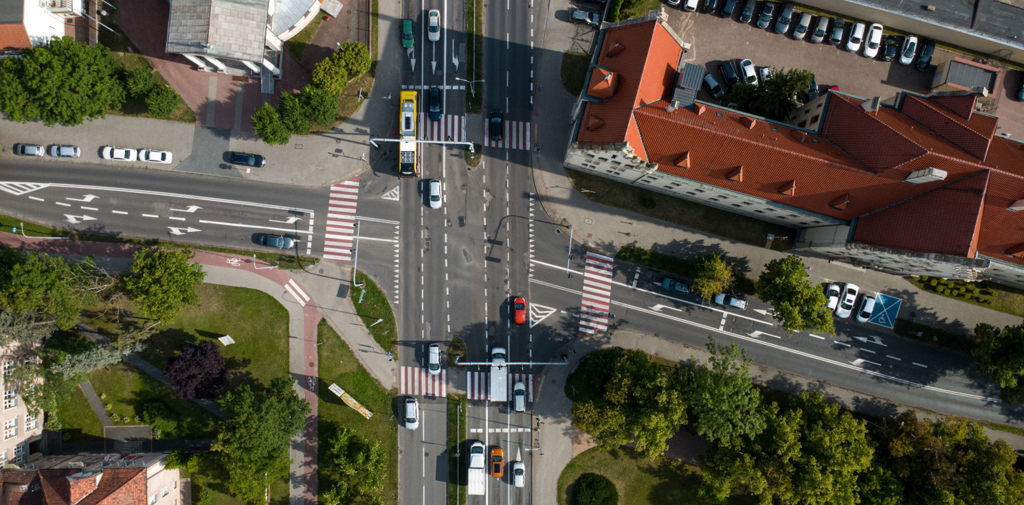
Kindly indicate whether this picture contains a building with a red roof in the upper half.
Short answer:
Yes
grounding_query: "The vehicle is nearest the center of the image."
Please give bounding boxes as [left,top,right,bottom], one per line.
[512,296,526,324]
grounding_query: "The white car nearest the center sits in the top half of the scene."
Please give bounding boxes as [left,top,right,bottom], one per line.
[427,180,442,209]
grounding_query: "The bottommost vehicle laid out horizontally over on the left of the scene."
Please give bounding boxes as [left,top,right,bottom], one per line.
[261,234,295,249]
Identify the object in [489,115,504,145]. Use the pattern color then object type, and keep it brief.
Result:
black car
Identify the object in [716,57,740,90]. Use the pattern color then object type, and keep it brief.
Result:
black car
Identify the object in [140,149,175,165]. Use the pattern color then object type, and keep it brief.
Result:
white car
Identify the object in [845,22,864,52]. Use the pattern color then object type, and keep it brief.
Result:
white car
